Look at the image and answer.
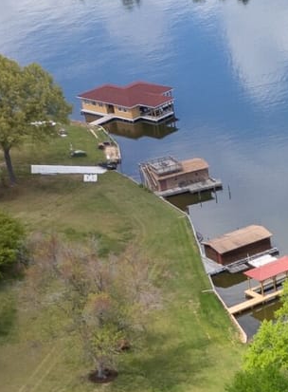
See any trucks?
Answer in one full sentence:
No, no truck is visible in the scene.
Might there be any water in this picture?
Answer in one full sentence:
Yes, water shows up in the scene.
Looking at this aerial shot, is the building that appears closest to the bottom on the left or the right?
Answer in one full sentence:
The building that appears closest to the bottom is on the right side of the image.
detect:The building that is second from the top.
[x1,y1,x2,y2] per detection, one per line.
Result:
[129,154,224,194]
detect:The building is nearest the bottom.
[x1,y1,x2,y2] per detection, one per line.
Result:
[193,226,283,275]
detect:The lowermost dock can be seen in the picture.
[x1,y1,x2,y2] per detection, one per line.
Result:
[225,276,287,313]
